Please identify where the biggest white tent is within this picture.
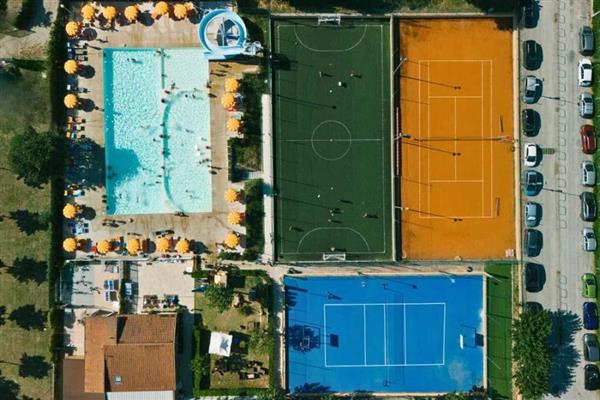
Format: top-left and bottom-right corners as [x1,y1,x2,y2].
[209,329,234,355]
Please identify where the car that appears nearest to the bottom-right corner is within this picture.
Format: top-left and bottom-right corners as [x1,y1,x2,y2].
[584,363,599,391]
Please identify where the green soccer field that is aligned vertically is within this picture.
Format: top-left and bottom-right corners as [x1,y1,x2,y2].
[272,15,393,262]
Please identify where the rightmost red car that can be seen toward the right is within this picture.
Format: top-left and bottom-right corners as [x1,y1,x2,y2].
[579,124,595,155]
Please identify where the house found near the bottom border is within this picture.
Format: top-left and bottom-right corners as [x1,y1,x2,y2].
[63,312,179,400]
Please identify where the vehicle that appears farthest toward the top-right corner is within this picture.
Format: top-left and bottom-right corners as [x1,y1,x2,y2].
[578,23,595,57]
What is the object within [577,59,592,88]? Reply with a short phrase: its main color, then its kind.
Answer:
white car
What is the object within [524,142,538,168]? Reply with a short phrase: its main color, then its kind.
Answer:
white car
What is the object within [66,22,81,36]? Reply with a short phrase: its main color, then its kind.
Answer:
orange umbrella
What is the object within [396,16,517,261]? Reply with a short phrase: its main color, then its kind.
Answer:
orange tennis court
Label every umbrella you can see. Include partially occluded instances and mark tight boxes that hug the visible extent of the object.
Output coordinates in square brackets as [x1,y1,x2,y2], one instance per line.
[174,5,189,19]
[63,203,77,218]
[126,238,140,253]
[224,233,238,248]
[227,118,241,132]
[224,189,239,203]
[97,240,111,254]
[225,77,239,93]
[81,5,96,20]
[227,210,241,225]
[64,60,78,75]
[155,2,169,18]
[64,94,79,110]
[103,6,117,21]
[125,7,139,22]
[63,238,79,252]
[156,237,171,252]
[175,238,190,253]
[66,22,81,36]
[221,95,236,110]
